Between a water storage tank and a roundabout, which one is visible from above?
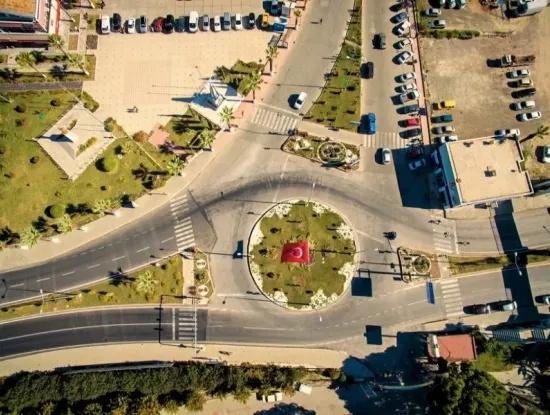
roundabout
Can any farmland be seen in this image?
No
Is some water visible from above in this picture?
No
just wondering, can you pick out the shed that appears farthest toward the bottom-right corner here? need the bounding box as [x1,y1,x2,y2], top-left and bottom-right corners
[427,331,476,360]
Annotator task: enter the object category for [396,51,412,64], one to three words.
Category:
vehicle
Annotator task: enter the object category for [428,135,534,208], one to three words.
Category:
building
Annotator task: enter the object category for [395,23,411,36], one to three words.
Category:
vehicle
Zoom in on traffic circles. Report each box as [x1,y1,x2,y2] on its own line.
[248,201,356,311]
